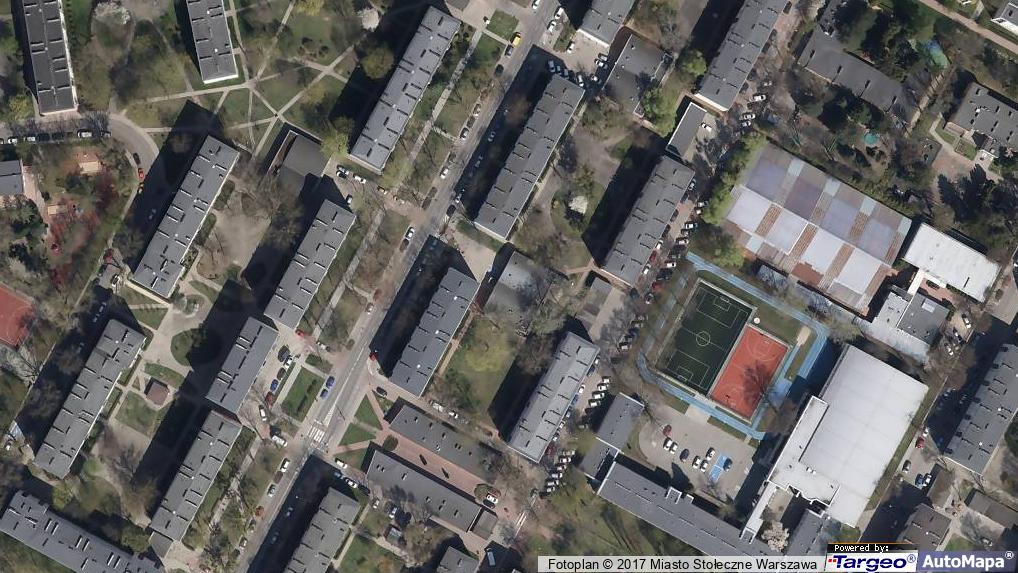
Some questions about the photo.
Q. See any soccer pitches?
Yes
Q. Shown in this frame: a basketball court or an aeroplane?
basketball court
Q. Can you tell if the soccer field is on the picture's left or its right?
right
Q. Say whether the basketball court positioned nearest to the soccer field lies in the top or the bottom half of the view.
bottom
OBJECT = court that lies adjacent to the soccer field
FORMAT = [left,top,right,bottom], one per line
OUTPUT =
[711,324,791,421]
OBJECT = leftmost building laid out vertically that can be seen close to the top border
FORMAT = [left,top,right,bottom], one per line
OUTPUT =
[23,0,80,117]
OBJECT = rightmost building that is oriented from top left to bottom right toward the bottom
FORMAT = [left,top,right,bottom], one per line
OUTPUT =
[970,491,1018,534]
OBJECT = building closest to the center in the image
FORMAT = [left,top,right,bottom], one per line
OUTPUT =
[484,251,553,327]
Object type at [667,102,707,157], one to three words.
building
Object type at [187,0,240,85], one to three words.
building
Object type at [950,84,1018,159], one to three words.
house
